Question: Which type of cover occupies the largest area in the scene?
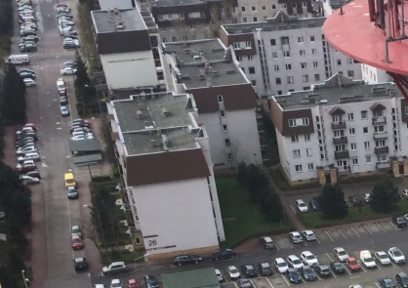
buildings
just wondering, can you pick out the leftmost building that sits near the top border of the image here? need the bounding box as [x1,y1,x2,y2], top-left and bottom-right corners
[83,0,166,95]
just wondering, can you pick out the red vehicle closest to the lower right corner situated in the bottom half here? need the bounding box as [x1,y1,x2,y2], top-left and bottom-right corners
[344,255,361,271]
